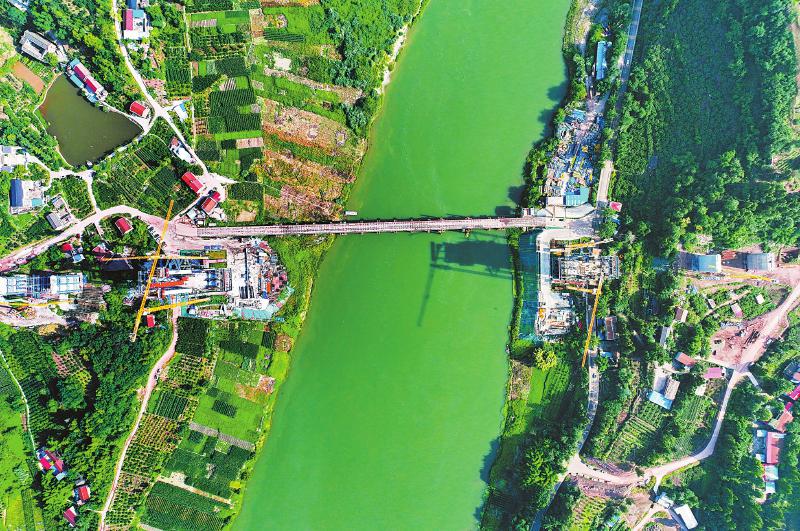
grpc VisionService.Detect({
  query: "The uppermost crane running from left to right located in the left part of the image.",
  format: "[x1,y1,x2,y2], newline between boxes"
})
[100,250,213,263]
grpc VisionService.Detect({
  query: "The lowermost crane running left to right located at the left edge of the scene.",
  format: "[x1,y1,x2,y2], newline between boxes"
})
[0,294,79,330]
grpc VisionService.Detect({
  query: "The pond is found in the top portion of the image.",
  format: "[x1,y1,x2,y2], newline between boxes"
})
[38,73,143,165]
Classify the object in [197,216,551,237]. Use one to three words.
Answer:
bridge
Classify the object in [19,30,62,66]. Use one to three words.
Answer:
house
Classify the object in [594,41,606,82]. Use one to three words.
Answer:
shed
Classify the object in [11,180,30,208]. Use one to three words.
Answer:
house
